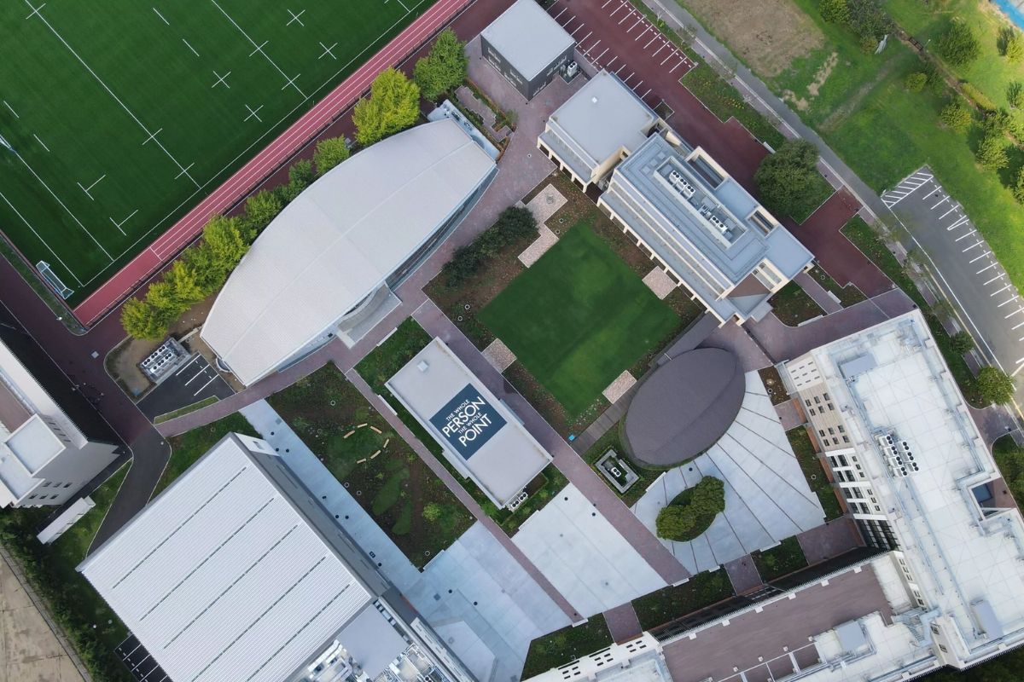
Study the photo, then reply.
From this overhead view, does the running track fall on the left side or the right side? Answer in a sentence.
It is on the left.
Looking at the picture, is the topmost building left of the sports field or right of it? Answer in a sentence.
In the image, the topmost building sits on the right side of the sports field.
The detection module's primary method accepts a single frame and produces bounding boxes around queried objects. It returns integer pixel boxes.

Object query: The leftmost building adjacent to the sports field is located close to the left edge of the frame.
[0,302,127,505]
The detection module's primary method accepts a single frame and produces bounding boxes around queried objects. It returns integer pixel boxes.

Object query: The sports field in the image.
[0,0,436,309]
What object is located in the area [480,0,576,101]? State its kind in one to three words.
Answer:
building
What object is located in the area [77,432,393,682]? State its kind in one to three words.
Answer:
building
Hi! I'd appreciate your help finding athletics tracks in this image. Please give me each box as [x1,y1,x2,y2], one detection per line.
[0,0,466,326]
